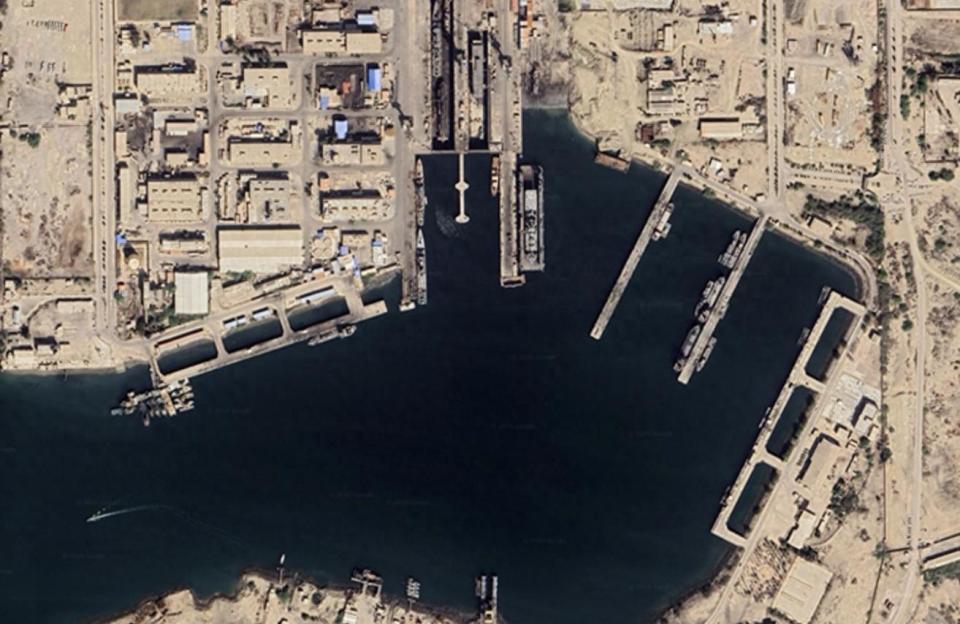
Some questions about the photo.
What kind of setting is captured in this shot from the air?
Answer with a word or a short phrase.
port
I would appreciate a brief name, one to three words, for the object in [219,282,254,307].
building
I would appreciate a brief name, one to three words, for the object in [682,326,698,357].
vessel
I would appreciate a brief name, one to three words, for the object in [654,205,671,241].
ship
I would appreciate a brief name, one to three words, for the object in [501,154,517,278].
pier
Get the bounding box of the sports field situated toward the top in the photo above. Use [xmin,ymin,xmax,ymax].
[117,0,197,22]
